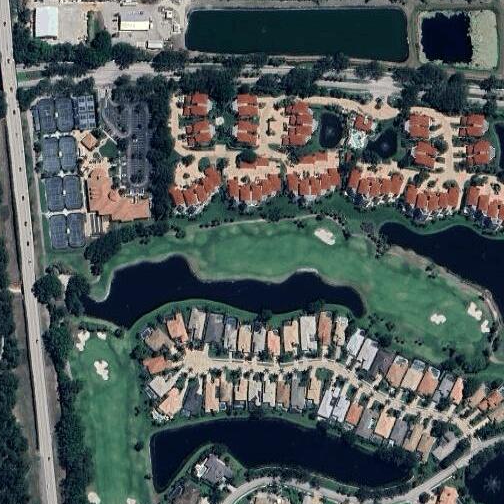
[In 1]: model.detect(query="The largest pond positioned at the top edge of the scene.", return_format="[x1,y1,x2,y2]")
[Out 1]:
[185,7,408,61]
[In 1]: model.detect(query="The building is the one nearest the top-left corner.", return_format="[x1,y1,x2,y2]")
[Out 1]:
[35,6,57,37]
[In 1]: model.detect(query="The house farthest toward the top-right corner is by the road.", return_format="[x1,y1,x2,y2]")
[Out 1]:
[459,113,488,137]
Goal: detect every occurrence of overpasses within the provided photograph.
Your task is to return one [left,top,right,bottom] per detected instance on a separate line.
[0,54,52,449]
